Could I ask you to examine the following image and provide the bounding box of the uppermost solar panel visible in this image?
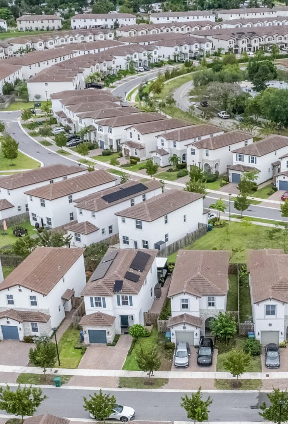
[110,179,152,198]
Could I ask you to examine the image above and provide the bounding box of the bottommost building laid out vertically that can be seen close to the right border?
[246,249,288,345]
